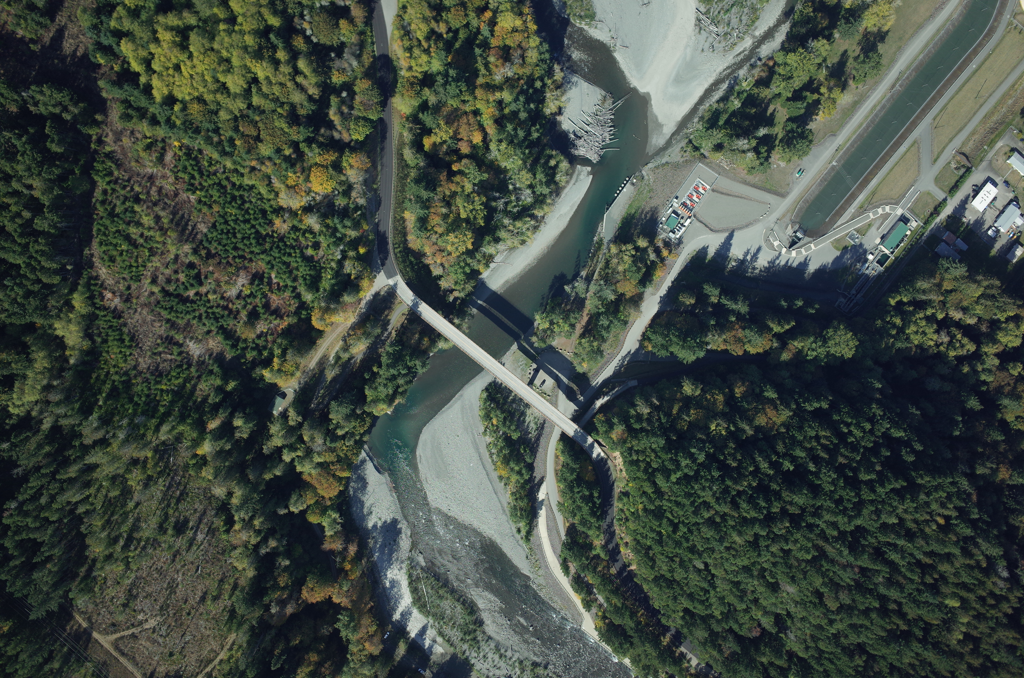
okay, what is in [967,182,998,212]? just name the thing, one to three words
building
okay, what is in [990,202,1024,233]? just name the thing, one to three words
barn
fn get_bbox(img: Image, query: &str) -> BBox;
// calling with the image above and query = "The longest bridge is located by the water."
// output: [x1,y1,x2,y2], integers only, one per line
[386,271,603,459]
